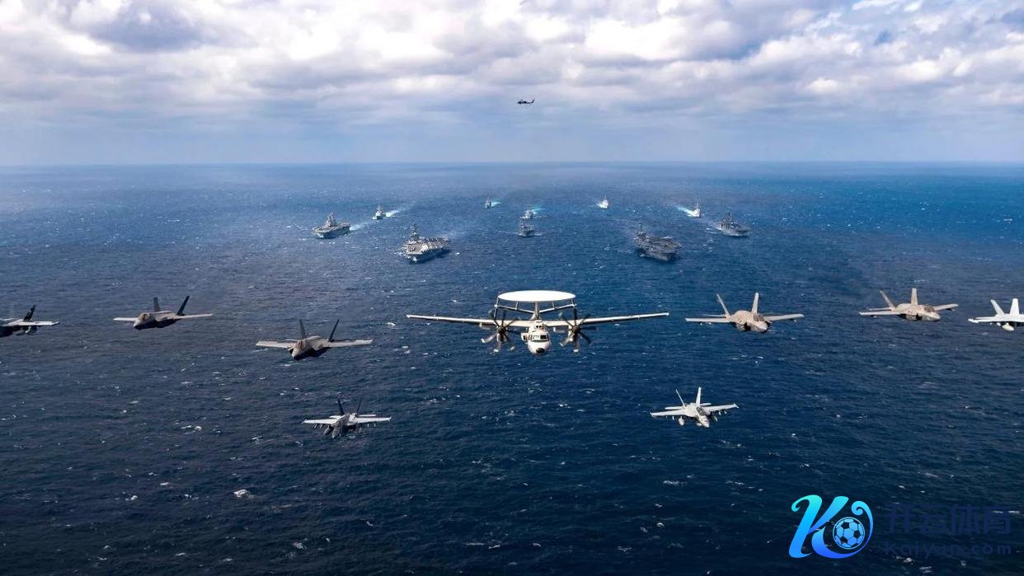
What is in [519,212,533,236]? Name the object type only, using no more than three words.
ship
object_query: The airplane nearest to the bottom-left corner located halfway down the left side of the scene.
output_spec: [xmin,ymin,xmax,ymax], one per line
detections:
[0,302,58,336]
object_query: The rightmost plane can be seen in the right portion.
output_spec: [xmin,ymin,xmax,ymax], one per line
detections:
[967,295,1024,331]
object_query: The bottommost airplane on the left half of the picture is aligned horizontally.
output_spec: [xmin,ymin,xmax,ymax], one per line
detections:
[305,399,393,440]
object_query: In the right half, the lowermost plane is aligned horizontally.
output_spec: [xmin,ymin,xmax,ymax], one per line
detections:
[650,387,738,428]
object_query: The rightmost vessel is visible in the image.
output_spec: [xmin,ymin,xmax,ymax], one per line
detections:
[715,212,754,236]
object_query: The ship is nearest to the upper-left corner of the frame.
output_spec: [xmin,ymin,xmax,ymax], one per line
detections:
[315,214,350,238]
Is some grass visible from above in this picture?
No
